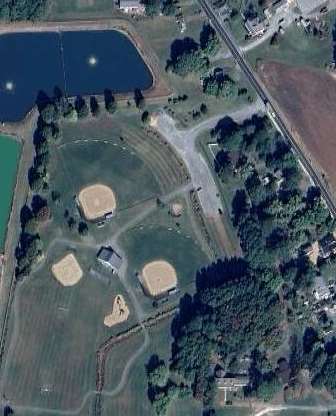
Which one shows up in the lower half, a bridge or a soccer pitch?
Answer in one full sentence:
It is a soccer pitch that can be seen in the lower half.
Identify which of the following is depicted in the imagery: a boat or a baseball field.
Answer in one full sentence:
Looking from above, you can make out a baseball field.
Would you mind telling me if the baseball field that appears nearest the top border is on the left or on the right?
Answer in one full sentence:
It is on the left.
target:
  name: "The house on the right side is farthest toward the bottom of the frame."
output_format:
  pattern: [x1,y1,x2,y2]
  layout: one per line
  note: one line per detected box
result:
[215,377,248,391]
